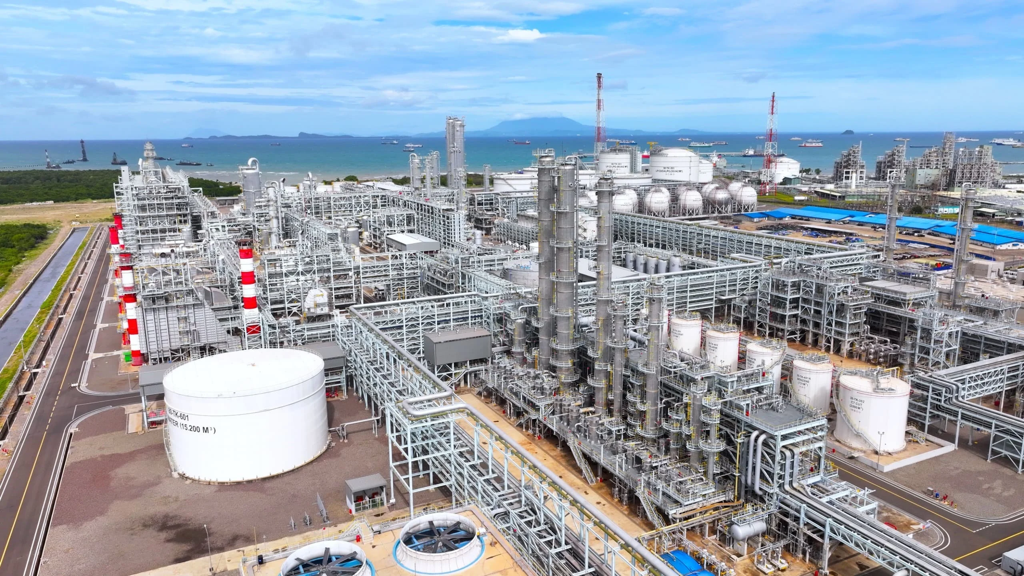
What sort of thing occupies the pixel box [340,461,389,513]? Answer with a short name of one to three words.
shed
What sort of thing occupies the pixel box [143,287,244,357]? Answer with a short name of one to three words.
building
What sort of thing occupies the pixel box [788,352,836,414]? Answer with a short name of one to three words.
storage tank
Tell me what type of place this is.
industrial area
